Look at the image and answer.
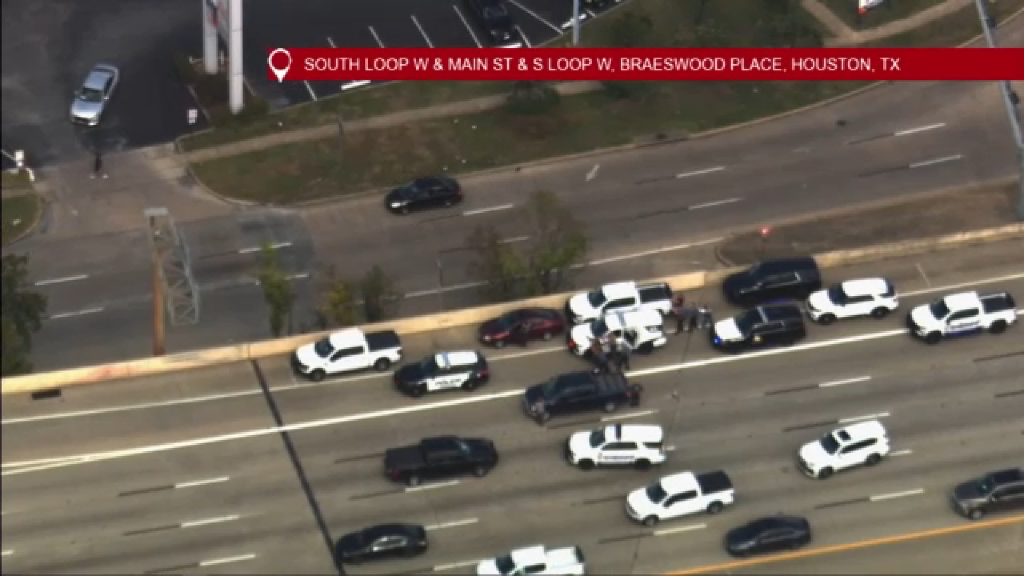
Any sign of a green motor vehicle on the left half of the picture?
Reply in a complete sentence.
No, the scene shows no green motor vehicle on the left half of the picture.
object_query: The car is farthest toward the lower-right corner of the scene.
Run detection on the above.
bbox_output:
[950,470,1024,520]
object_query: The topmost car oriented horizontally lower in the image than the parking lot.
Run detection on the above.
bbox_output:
[384,179,465,216]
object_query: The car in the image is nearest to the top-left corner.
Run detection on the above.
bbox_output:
[71,70,119,126]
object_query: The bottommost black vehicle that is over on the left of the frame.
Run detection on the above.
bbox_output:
[334,523,431,566]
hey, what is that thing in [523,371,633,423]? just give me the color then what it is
black truck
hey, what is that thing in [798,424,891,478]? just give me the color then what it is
white car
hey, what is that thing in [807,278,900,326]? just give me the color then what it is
white car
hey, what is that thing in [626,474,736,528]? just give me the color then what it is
white truck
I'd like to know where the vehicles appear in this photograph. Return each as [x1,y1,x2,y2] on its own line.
[950,470,1024,520]
[722,253,823,307]
[290,331,403,383]
[711,304,806,354]
[478,310,567,353]
[807,278,900,326]
[382,437,500,490]
[394,349,490,399]
[523,371,633,423]
[476,548,589,576]
[334,523,431,566]
[567,308,668,362]
[626,474,736,528]
[564,422,668,473]
[71,70,119,126]
[906,293,1018,346]
[565,283,674,328]
[384,179,465,216]
[455,0,516,48]
[798,424,891,478]
[723,517,815,560]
